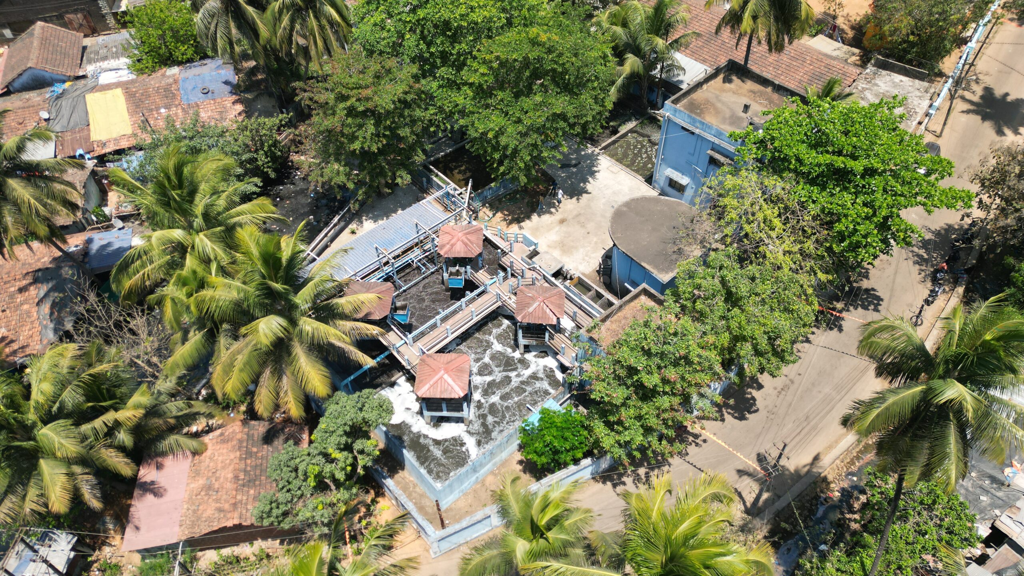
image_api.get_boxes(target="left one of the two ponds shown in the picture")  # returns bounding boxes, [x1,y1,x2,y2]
[417,132,530,210]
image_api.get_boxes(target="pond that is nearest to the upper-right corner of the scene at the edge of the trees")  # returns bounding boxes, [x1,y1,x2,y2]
[600,117,663,184]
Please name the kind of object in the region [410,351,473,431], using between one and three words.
gazebo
